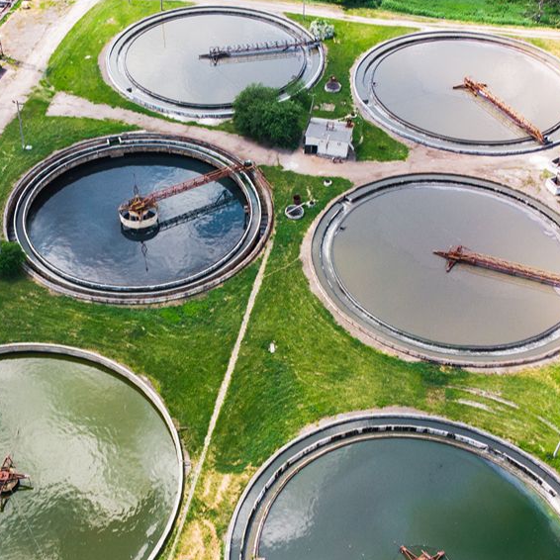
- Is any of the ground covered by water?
Yes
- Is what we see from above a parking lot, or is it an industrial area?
industrial area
